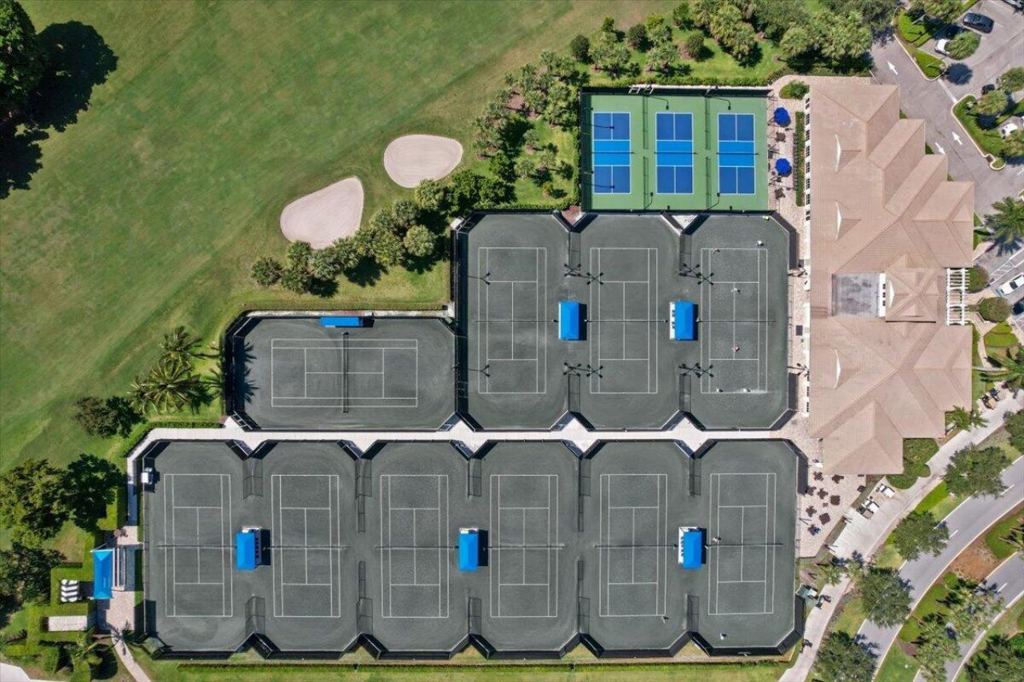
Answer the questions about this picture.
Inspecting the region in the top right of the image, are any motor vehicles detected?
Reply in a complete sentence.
Yes, a motor vehicle can be seen in the top right of the image.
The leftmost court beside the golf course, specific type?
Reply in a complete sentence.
From above, the leftmost court beside the golf course can be identified as a tennis court.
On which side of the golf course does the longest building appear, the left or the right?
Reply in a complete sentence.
From the viewer's perspective, the longest building falls to the right of the golf course.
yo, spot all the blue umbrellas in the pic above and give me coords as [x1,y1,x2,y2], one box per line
[773,107,790,125]
[774,158,791,175]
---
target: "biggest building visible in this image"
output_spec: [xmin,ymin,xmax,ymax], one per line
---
[803,84,974,474]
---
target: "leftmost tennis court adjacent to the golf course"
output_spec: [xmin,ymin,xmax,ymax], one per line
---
[144,443,253,651]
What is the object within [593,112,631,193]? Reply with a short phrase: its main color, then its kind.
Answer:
blue sports court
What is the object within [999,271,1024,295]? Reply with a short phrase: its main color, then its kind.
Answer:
white car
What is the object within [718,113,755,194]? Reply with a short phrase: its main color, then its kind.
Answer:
blue sports court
